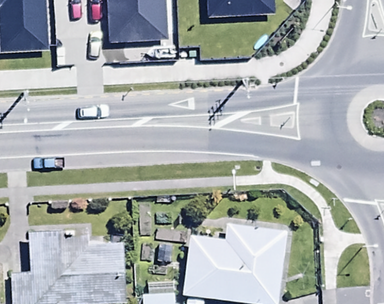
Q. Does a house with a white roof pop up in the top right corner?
No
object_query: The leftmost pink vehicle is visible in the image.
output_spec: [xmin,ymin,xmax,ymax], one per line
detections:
[70,0,82,20]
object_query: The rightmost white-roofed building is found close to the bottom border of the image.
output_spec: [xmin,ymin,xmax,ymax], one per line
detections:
[184,224,288,304]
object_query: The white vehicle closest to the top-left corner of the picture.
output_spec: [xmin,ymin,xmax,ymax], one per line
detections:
[89,31,102,59]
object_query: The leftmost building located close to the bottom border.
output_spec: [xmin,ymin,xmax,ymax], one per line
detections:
[11,231,126,304]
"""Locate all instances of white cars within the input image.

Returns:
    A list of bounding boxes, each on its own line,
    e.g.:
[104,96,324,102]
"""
[89,31,102,59]
[76,104,110,118]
